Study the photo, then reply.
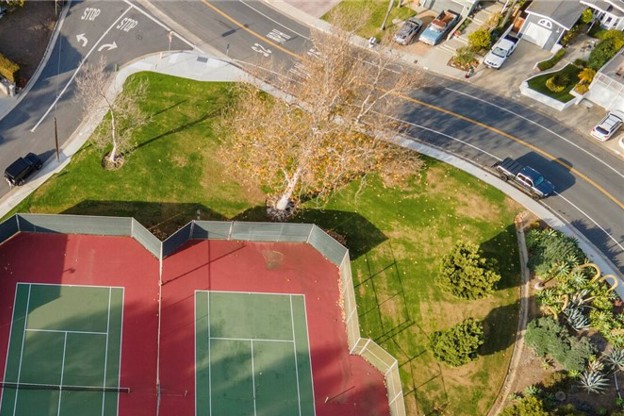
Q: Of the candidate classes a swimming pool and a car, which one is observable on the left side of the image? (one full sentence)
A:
What appears on the left side of the image is a car.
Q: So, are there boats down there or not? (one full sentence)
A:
No, no boat can be seen from above.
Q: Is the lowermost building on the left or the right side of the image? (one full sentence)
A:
The lowermost building appears in the right half of the scene.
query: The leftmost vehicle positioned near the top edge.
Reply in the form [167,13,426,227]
[394,16,423,43]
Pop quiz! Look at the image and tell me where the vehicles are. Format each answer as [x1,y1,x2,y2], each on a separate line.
[422,4,461,43]
[592,109,624,142]
[5,155,41,185]
[485,30,524,68]
[394,16,423,43]
[498,155,560,199]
